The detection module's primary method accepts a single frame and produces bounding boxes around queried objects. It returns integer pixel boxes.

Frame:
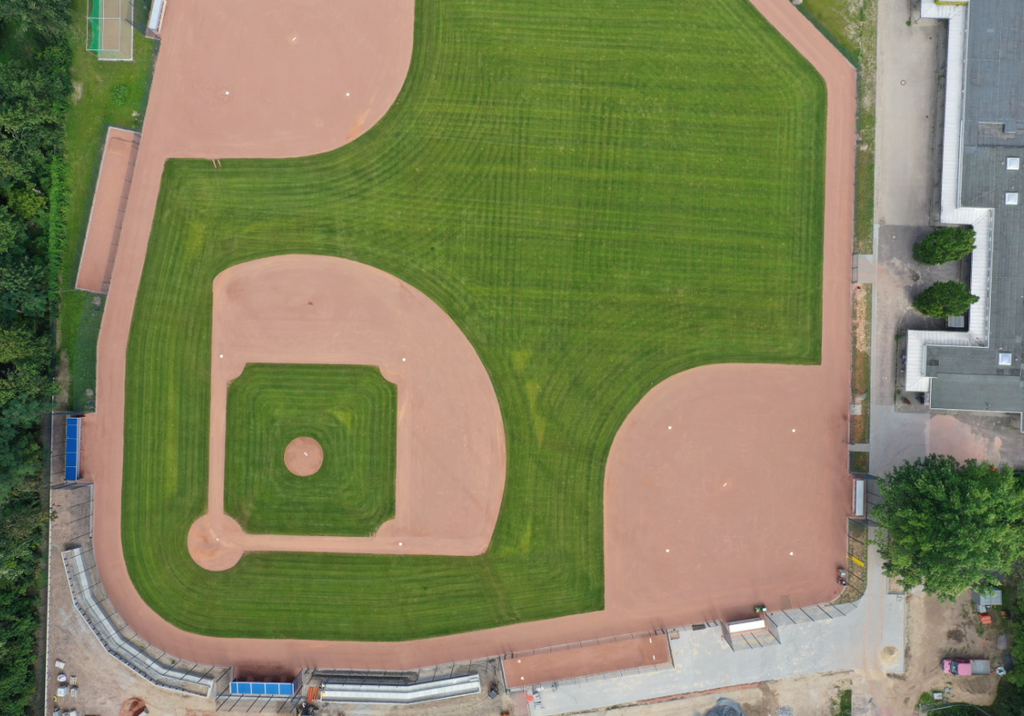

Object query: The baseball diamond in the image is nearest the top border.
[145,0,413,157]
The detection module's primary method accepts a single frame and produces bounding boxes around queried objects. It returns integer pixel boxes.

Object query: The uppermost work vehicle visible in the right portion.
[838,571,850,588]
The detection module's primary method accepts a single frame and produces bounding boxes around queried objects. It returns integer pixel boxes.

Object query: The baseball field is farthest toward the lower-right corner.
[605,364,845,633]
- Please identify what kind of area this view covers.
sports ground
